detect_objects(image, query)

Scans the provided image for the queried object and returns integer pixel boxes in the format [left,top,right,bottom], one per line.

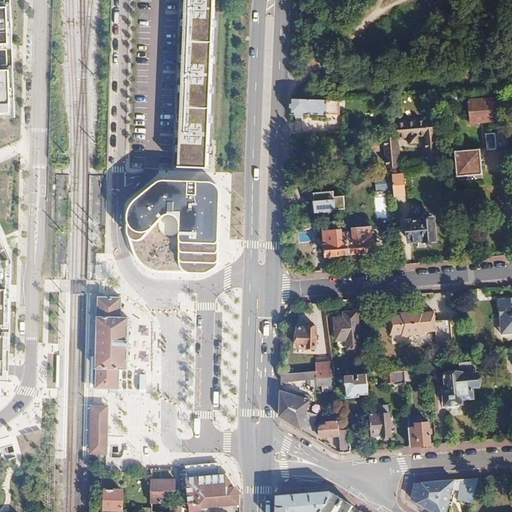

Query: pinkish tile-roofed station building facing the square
[94,297,126,390]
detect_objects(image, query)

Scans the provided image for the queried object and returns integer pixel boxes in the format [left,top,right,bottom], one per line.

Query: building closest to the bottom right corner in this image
[412,477,481,512]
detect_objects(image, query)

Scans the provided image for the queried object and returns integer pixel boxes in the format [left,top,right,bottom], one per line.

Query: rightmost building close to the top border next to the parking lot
[176,0,216,168]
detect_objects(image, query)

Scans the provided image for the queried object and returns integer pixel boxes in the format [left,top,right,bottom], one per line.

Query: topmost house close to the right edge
[468,96,493,124]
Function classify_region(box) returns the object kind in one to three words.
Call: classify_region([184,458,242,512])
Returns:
building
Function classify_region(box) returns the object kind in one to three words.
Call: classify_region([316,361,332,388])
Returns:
building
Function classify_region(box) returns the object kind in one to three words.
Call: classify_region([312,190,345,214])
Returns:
house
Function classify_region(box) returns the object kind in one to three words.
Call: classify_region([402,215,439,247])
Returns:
house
